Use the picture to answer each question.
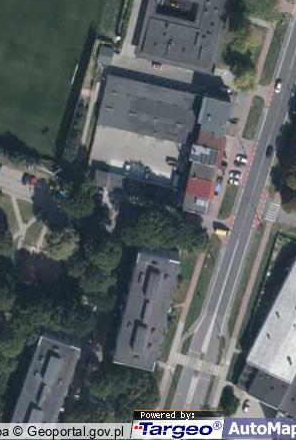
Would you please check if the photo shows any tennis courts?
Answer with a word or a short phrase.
No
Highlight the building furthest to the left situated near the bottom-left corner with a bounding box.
[4,332,80,440]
